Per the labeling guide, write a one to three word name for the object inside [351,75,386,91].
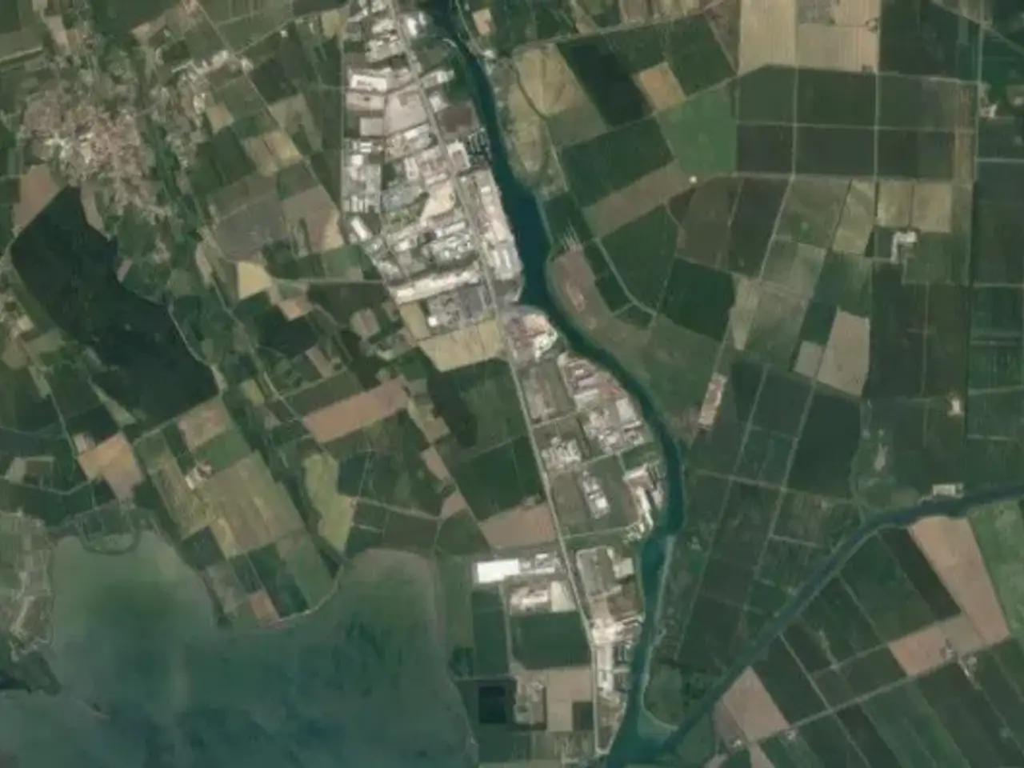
building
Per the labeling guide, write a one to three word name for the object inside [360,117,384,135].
building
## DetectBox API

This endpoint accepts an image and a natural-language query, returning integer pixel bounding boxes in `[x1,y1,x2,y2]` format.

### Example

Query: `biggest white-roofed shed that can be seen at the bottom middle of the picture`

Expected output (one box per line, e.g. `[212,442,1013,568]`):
[477,559,520,583]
